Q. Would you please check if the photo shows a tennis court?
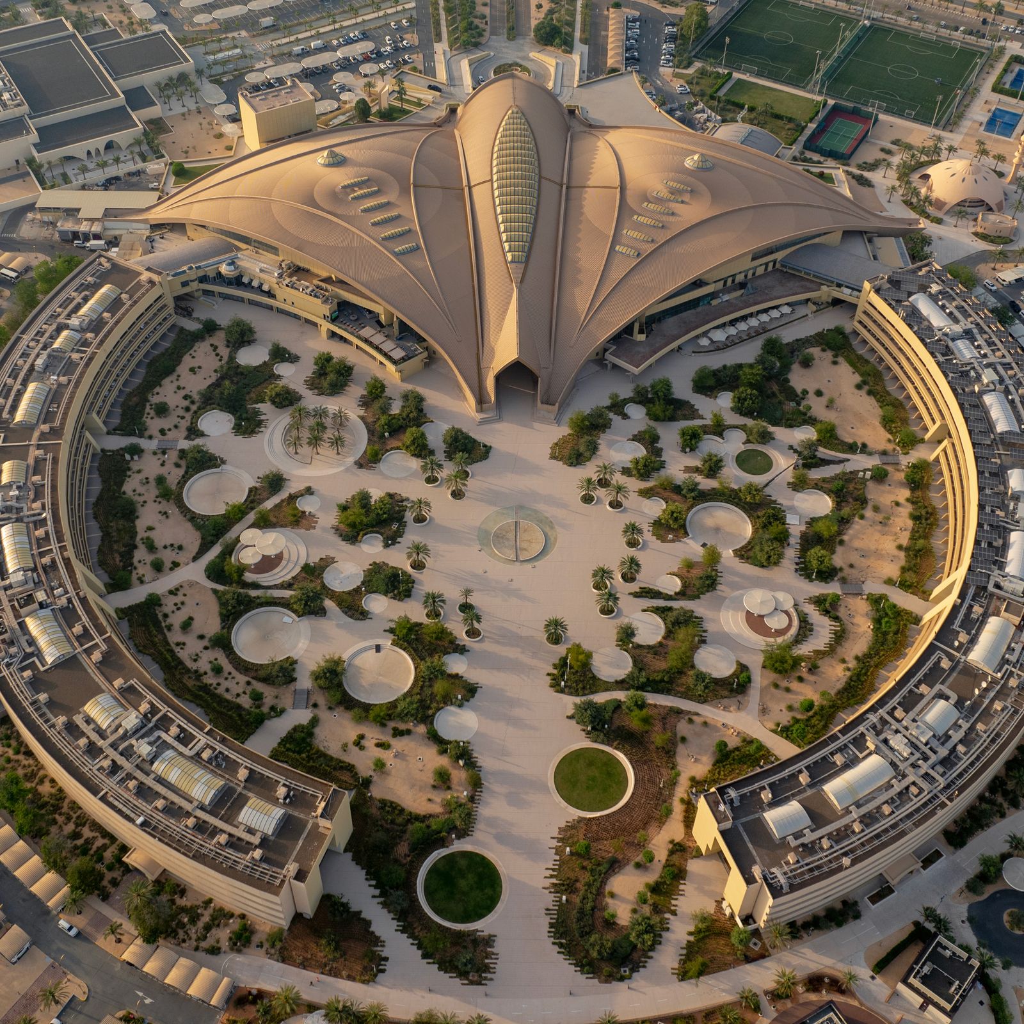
Yes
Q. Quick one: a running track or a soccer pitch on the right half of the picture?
soccer pitch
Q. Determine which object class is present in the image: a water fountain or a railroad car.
water fountain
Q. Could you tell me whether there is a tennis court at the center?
No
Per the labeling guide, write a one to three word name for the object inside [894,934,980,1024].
building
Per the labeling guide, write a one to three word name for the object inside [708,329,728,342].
umbrella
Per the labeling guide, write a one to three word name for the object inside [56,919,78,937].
car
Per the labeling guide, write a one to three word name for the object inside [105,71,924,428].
building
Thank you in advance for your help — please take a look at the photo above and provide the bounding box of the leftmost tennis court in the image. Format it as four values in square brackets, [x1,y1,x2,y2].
[808,104,873,152]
